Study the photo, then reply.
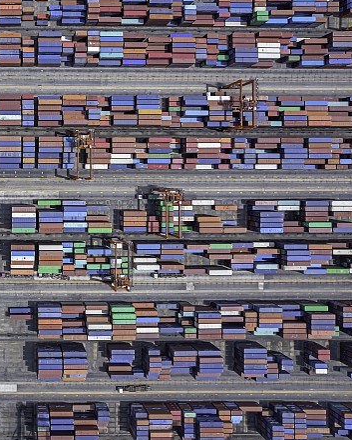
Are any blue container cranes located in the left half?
No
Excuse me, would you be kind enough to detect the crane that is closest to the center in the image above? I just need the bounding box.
[149,187,183,239]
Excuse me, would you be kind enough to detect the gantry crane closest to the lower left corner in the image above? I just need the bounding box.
[102,236,132,292]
